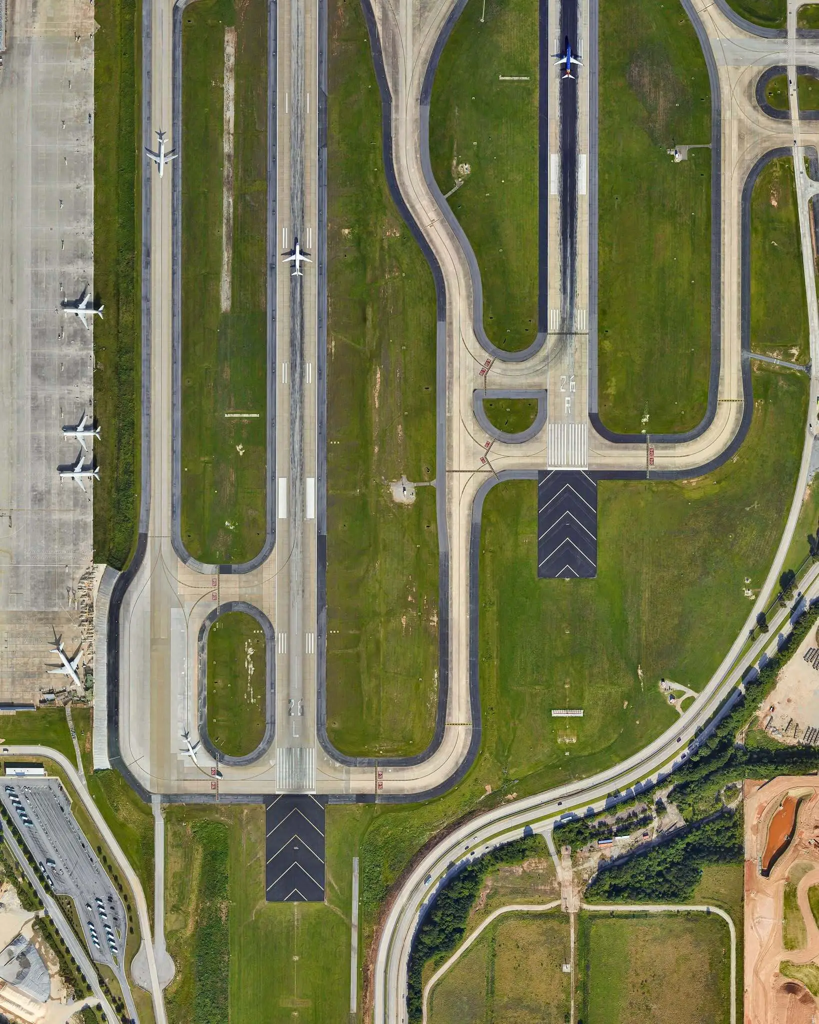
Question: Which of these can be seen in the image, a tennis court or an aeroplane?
aeroplane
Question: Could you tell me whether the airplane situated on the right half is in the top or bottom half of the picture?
top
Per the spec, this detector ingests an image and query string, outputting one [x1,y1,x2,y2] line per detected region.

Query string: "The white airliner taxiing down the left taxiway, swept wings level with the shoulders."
[146,138,178,177]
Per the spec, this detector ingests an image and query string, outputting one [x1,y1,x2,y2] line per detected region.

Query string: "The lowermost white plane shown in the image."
[181,740,201,764]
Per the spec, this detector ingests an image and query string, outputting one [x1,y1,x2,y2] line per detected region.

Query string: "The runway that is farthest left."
[267,0,327,794]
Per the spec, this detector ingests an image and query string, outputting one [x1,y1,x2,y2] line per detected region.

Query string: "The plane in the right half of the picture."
[553,47,584,78]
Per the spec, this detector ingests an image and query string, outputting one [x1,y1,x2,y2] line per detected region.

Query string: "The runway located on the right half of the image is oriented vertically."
[538,0,599,470]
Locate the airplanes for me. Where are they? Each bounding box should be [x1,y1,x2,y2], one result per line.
[181,740,201,764]
[48,644,85,686]
[63,293,103,329]
[60,455,98,493]
[63,415,100,452]
[553,47,584,78]
[146,138,178,177]
[282,243,313,275]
